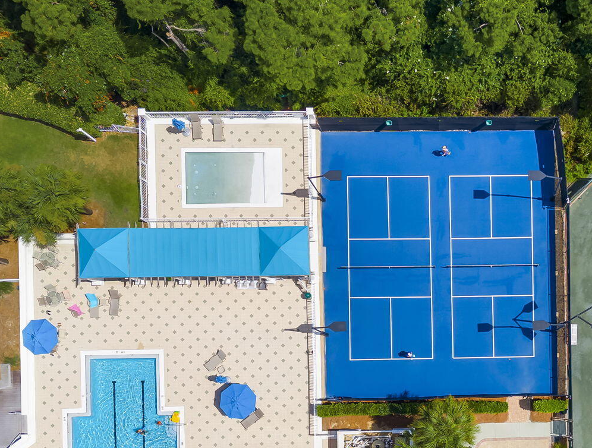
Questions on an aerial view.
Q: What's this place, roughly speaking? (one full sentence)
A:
This looks like a sports ground.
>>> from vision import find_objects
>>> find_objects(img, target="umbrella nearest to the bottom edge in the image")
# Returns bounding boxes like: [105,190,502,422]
[220,381,258,418]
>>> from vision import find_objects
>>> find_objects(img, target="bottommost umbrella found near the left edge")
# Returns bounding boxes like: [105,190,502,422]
[25,320,63,354]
